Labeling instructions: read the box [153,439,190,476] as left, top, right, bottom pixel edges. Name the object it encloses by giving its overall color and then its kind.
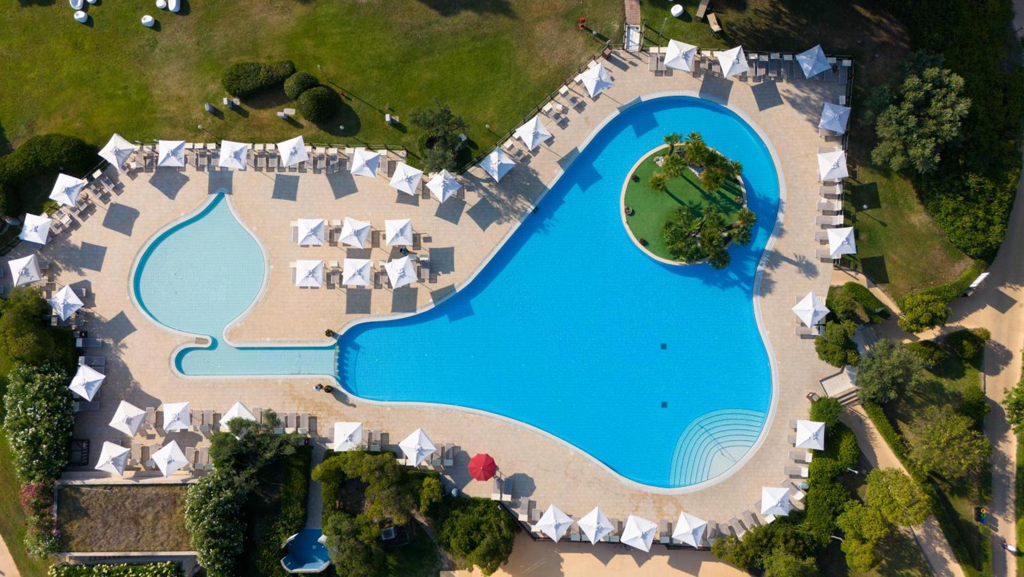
white umbrella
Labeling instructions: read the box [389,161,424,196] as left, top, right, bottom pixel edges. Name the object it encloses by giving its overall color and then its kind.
white umbrella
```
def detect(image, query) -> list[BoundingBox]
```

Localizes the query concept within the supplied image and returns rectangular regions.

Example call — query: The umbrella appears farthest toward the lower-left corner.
[98,441,132,475]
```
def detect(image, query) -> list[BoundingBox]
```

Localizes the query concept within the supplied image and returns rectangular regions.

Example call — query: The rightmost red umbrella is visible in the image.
[468,452,497,481]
